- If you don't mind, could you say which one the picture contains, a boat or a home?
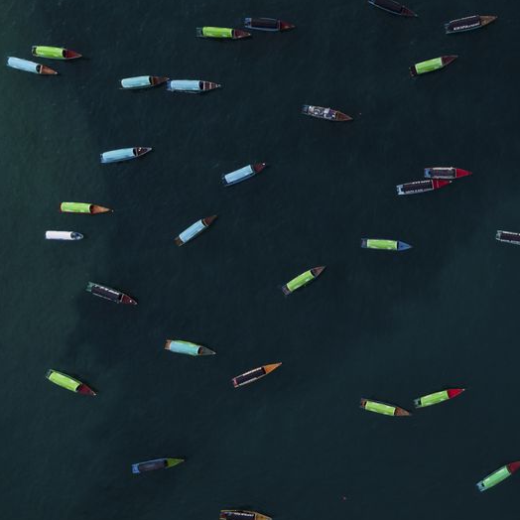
boat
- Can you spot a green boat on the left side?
Yes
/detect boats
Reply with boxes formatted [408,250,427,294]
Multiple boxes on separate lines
[194,26,251,38]
[243,17,295,30]
[302,104,354,121]
[174,215,218,248]
[220,163,266,186]
[84,282,137,304]
[410,55,459,76]
[218,511,272,520]
[475,462,520,493]
[46,230,83,240]
[423,167,472,178]
[162,340,216,356]
[118,75,170,88]
[360,238,413,251]
[99,147,153,163]
[58,203,113,214]
[130,458,185,474]
[30,46,82,59]
[5,56,58,75]
[444,16,498,34]
[46,369,97,395]
[165,79,220,92]
[359,398,411,416]
[281,265,327,295]
[414,388,465,409]
[396,179,452,194]
[231,363,282,388]
[496,230,520,244]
